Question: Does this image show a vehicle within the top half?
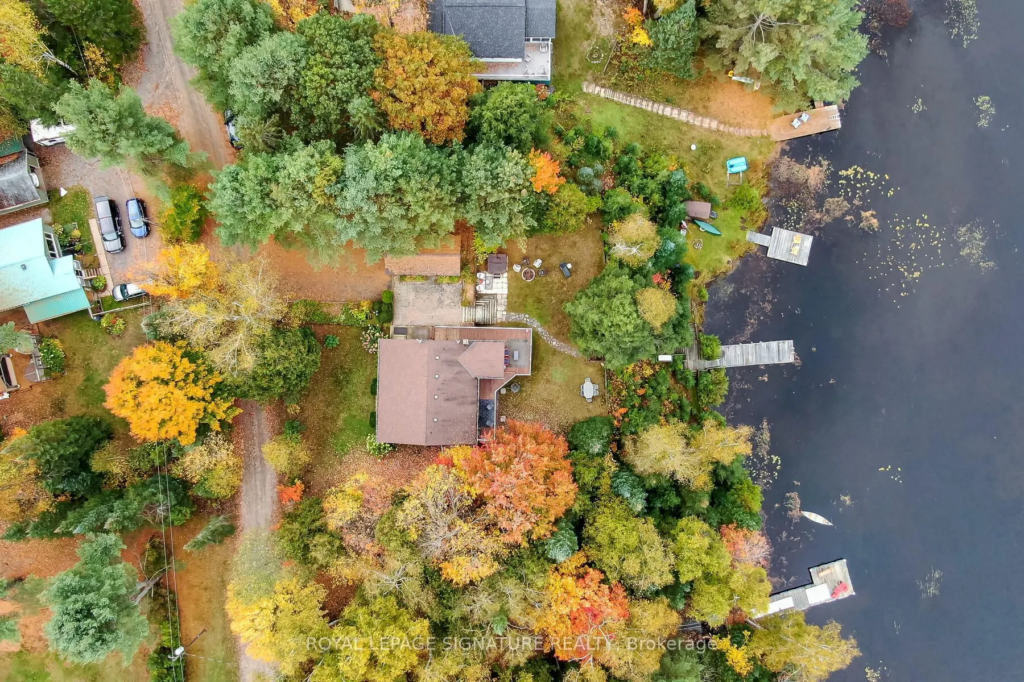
Yes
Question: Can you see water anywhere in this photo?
Yes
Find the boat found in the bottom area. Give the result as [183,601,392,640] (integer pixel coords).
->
[800,510,833,526]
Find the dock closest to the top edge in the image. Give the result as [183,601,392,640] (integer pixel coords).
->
[769,96,841,142]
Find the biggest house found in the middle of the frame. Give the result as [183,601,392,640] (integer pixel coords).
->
[375,326,532,446]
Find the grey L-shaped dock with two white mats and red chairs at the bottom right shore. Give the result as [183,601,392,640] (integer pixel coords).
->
[750,558,856,621]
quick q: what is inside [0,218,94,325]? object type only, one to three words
house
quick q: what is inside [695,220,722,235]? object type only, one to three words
boat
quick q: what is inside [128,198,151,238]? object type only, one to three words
car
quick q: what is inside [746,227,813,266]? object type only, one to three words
pier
